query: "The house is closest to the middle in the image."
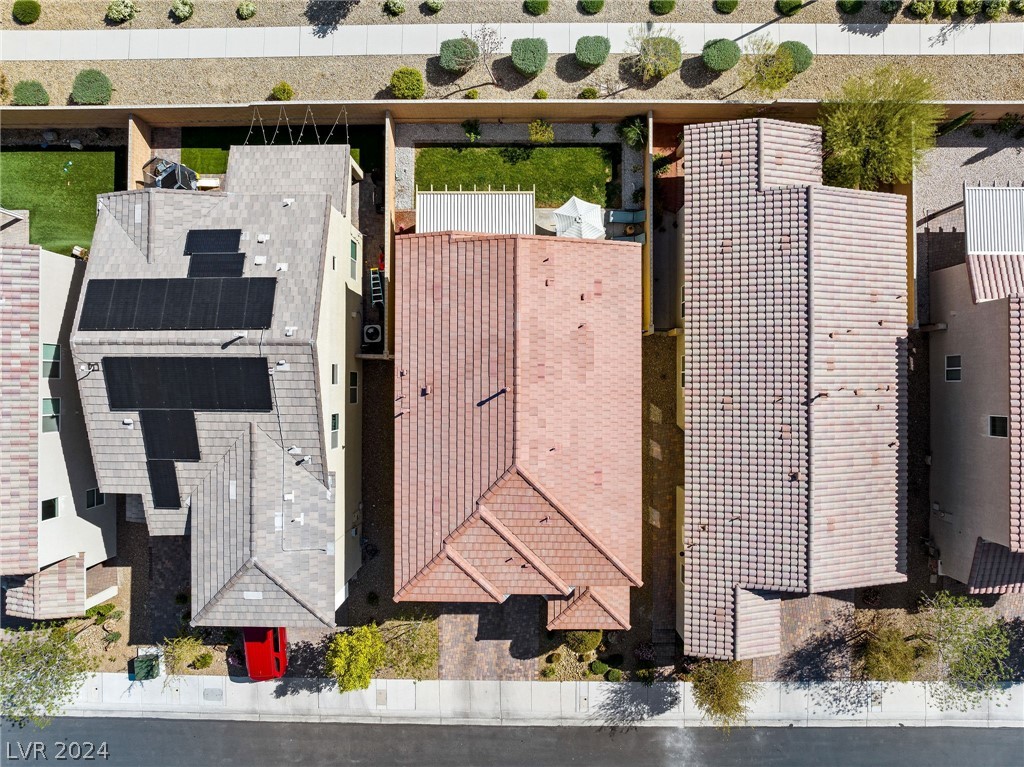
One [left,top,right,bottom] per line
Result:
[392,183,645,631]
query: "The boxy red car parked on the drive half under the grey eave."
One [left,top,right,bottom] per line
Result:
[245,627,292,683]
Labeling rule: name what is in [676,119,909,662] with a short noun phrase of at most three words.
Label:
house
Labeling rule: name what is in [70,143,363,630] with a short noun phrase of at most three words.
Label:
house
